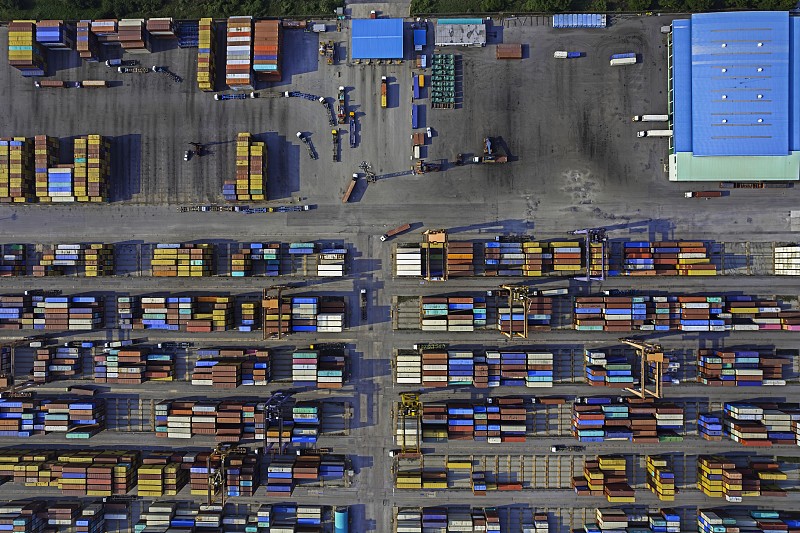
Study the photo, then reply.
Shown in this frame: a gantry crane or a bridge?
gantry crane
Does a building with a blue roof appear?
Yes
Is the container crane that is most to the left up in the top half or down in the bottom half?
bottom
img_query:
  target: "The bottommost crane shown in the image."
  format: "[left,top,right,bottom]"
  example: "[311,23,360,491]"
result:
[207,440,245,506]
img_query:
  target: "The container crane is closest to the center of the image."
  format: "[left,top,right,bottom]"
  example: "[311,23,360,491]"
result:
[423,230,448,281]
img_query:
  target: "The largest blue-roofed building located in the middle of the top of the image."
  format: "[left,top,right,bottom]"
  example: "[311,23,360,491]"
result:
[352,19,403,64]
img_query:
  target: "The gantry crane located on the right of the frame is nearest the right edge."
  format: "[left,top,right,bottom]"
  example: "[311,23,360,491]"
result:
[618,341,664,398]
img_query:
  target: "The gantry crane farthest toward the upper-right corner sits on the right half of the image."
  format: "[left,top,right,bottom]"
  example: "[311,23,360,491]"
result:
[568,230,606,281]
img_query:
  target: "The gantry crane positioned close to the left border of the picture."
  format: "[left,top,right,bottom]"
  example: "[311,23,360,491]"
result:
[0,339,49,392]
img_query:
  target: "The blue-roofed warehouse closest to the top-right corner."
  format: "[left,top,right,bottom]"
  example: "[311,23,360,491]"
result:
[662,11,800,184]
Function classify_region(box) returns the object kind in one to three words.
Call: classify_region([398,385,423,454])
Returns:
container crane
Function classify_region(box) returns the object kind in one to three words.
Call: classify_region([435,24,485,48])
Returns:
building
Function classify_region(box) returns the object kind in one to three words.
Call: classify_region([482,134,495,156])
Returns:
vehicle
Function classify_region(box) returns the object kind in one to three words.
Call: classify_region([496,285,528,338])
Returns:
container crane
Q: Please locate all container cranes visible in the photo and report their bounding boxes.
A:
[0,339,49,392]
[496,285,528,338]
[264,393,298,449]
[423,230,448,281]
[262,286,296,340]
[207,440,245,506]
[618,341,664,398]
[568,230,606,281]
[398,385,423,454]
